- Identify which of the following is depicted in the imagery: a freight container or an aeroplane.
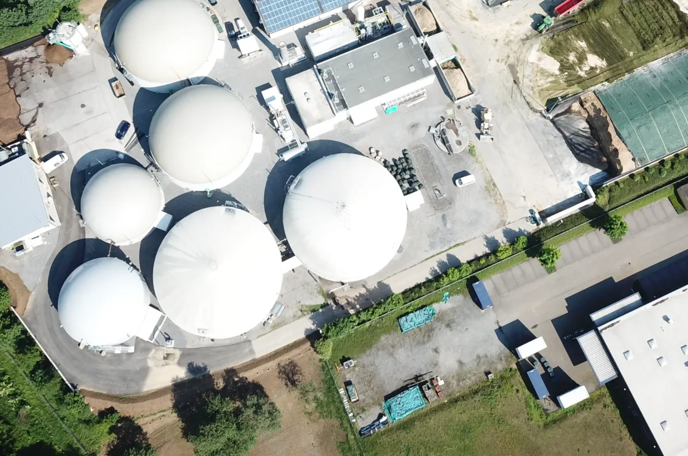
freight container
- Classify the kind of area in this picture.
industrial area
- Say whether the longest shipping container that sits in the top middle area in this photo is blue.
No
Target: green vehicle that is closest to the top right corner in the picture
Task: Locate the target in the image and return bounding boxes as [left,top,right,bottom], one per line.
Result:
[537,14,554,33]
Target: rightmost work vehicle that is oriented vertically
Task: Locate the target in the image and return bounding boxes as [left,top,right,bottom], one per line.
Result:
[481,107,494,140]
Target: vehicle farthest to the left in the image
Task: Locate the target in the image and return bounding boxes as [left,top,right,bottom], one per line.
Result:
[39,153,67,172]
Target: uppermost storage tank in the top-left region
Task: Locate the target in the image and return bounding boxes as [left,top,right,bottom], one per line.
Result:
[108,0,226,94]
